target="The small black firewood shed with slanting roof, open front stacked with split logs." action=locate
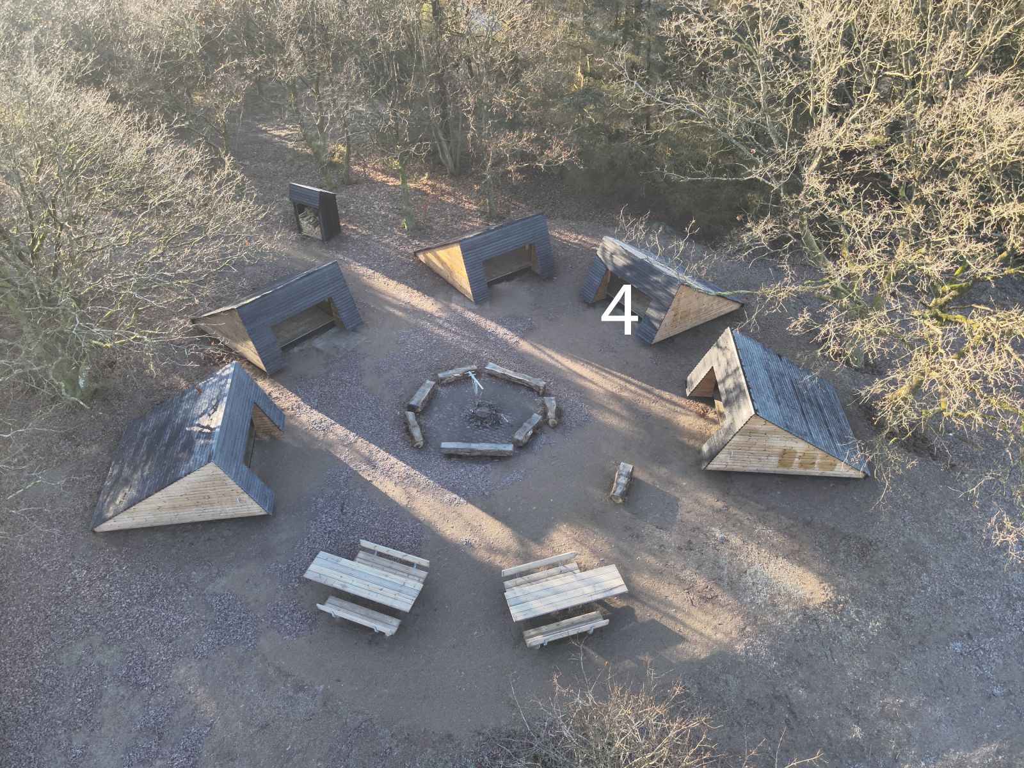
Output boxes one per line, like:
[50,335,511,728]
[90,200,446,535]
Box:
[289,182,340,241]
